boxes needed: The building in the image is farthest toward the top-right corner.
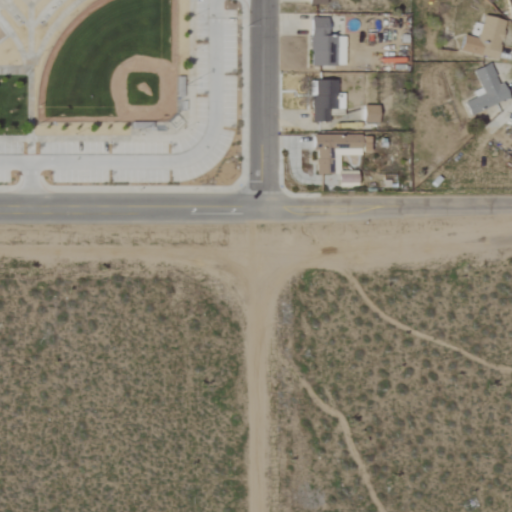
[460,13,510,62]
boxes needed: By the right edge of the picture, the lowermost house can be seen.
[468,63,512,114]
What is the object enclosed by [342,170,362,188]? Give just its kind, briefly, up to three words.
building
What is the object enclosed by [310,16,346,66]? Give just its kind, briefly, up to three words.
house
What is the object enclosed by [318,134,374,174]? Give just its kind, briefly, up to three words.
house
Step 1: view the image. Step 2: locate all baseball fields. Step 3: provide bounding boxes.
[36,0,179,122]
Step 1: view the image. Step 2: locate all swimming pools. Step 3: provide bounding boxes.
[347,17,362,32]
